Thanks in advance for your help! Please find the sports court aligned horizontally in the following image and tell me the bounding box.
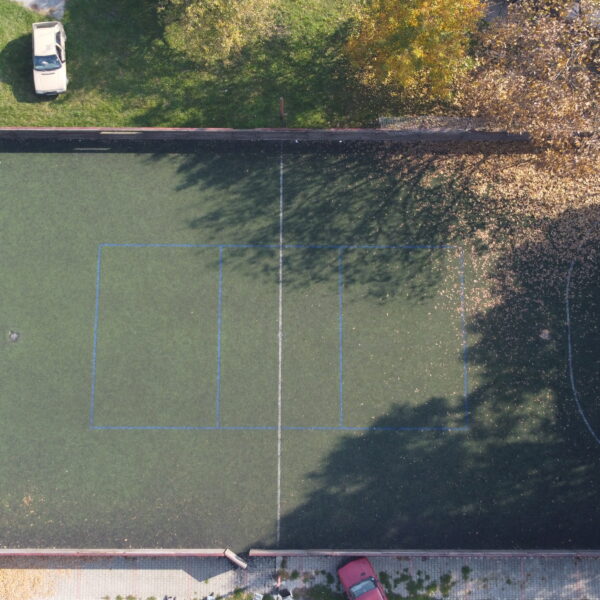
[91,244,468,430]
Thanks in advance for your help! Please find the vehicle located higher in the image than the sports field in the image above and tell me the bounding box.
[29,24,70,98]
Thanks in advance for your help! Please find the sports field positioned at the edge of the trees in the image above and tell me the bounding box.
[0,138,600,550]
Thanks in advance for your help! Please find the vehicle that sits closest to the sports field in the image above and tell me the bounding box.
[337,555,387,600]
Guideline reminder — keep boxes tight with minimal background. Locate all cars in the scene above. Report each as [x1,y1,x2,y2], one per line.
[29,24,70,98]
[337,555,387,600]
